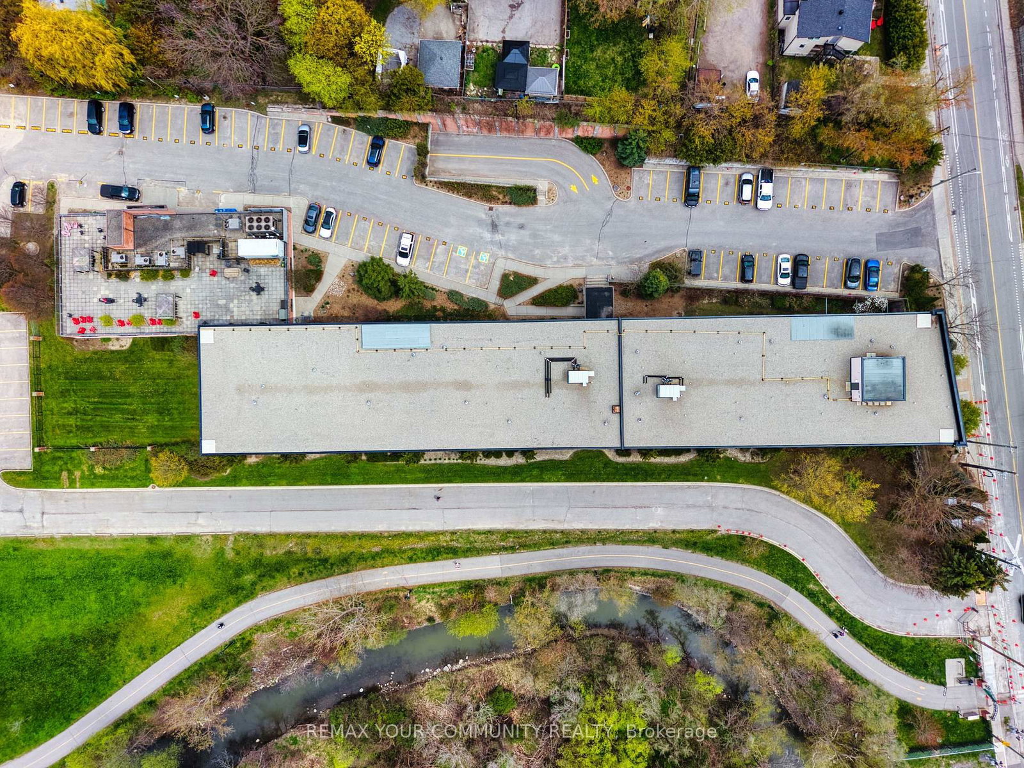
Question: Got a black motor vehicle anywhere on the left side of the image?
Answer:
Yes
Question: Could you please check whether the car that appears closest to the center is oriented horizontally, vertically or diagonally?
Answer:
vertically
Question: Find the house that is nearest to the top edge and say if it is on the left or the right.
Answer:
right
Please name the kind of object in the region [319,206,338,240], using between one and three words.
car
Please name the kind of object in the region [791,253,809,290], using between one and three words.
vehicle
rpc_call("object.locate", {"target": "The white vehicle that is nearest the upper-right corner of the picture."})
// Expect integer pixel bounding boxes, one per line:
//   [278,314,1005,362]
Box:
[745,70,762,104]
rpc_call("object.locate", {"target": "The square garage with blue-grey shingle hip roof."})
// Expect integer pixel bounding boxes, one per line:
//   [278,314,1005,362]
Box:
[419,40,462,95]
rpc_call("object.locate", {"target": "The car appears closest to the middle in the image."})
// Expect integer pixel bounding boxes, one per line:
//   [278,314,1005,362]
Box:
[395,230,415,268]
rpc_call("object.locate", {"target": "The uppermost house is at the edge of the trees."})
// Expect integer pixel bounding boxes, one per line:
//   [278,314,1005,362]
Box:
[768,0,874,54]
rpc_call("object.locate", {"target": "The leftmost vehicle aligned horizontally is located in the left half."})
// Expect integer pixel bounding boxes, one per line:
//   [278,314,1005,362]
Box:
[100,184,142,202]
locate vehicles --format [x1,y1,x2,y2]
[745,70,762,104]
[296,123,312,156]
[116,101,136,136]
[775,254,792,287]
[843,257,861,289]
[791,253,809,290]
[84,100,106,136]
[687,246,703,281]
[199,103,217,136]
[9,179,28,210]
[395,230,415,268]
[100,184,142,202]
[737,173,754,204]
[366,135,386,169]
[319,206,338,240]
[739,252,756,285]
[755,169,775,211]
[303,202,322,235]
[683,166,702,207]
